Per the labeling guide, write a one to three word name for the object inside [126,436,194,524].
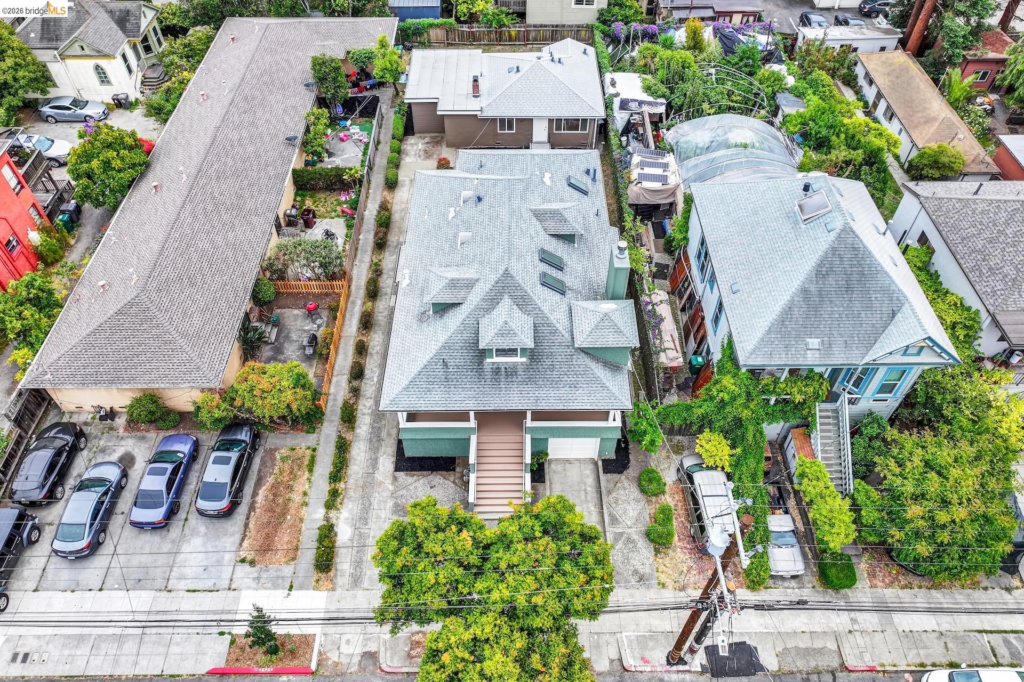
car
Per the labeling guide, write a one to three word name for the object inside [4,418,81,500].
car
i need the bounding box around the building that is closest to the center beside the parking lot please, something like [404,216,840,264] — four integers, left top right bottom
[377,152,642,519]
